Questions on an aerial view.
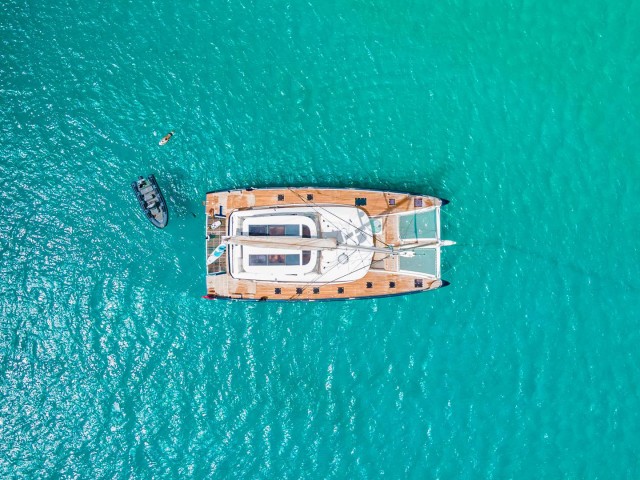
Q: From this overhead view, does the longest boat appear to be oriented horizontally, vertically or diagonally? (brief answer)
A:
horizontally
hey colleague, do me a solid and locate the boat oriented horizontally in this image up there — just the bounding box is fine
[202,187,472,301]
